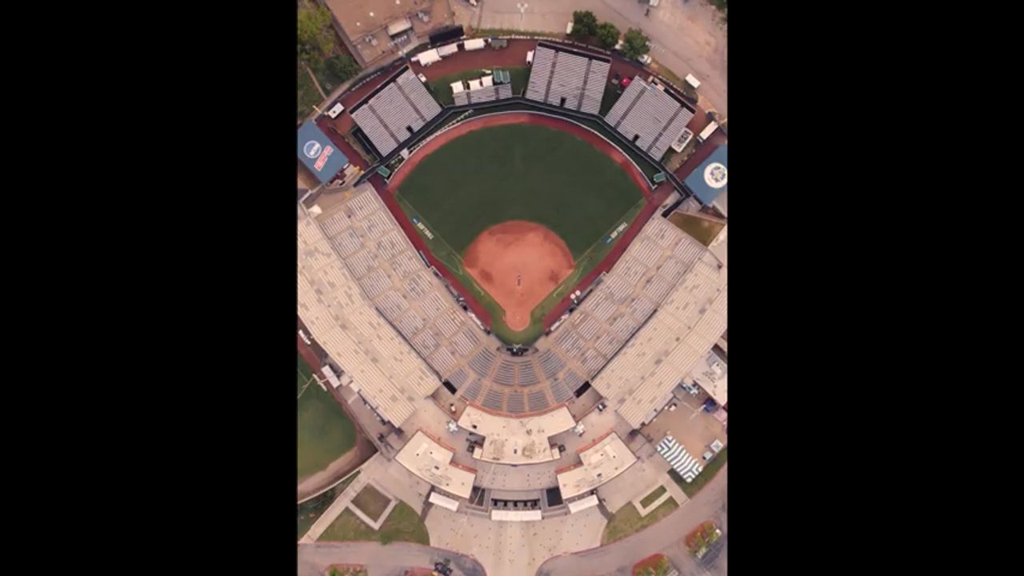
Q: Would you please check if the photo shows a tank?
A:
No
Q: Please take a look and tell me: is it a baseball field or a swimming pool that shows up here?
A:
baseball field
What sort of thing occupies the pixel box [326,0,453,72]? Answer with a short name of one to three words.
building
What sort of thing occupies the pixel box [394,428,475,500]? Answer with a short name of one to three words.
building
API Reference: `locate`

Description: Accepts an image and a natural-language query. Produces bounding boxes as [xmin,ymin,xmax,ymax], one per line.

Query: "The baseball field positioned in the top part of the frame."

[371,113,668,346]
